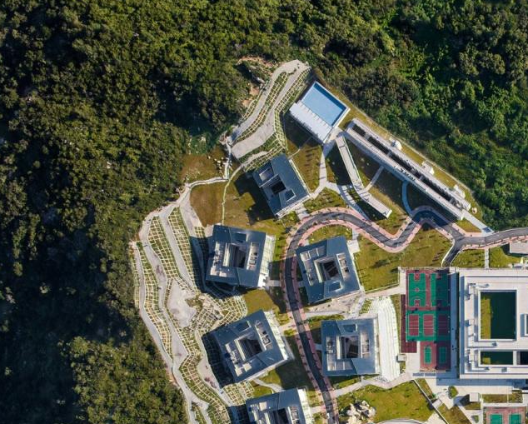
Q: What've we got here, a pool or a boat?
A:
pool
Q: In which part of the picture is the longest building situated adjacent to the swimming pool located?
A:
right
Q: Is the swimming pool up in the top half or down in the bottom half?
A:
top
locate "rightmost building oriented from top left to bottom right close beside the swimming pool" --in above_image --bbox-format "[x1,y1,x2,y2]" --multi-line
[346,119,472,223]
